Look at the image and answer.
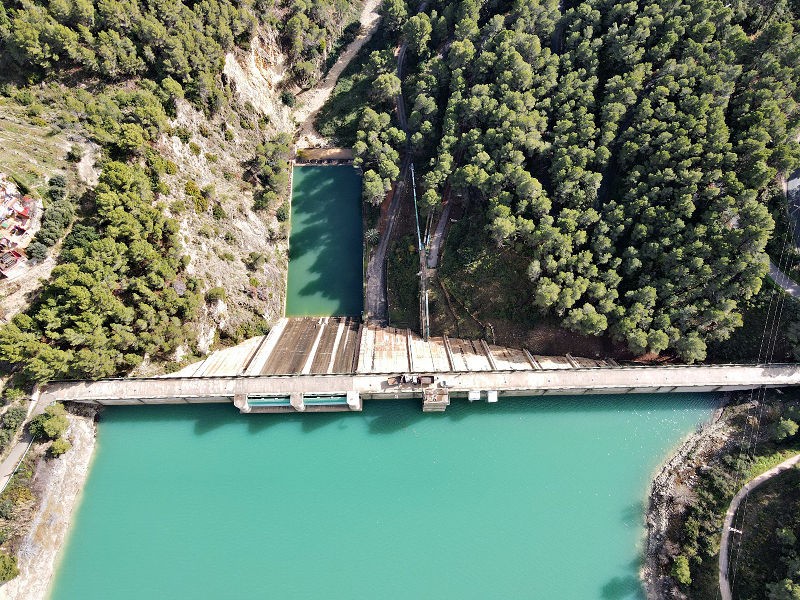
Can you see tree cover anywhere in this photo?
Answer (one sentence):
Yes, tree cover can be seen from above here.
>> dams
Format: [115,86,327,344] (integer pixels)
[46,312,800,415]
